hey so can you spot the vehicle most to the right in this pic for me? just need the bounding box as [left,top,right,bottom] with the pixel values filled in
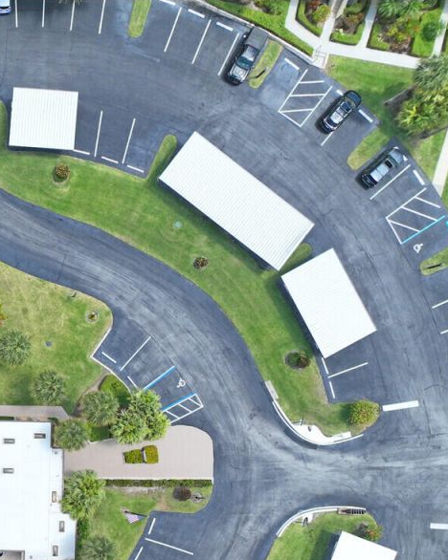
[359,147,404,189]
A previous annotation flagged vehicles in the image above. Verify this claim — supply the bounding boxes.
[320,90,361,136]
[223,25,266,85]
[359,147,404,189]
[0,0,12,13]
